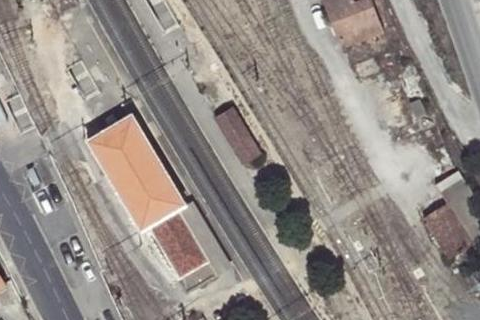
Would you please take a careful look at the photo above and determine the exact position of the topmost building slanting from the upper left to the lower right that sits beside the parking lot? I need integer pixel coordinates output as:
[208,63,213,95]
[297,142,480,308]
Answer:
[87,114,187,233]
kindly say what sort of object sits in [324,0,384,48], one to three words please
house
